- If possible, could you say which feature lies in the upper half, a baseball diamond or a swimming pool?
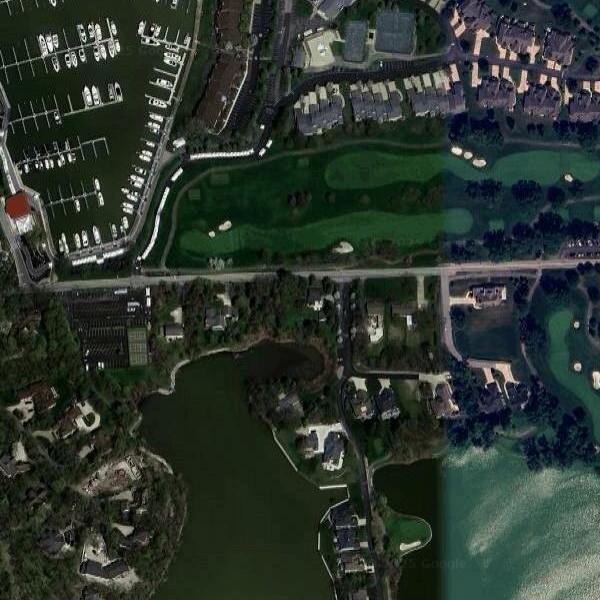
swimming pool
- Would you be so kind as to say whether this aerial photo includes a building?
Yes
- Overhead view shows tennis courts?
Yes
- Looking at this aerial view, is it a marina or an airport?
marina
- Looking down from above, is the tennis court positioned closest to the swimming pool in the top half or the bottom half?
top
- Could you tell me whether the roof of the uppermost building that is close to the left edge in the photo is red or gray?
red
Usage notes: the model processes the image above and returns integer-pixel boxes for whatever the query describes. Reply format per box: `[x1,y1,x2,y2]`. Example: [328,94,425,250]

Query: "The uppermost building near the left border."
[5,193,28,219]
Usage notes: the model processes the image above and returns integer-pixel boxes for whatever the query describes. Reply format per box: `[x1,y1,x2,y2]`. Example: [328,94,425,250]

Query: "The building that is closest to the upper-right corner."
[542,29,578,64]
